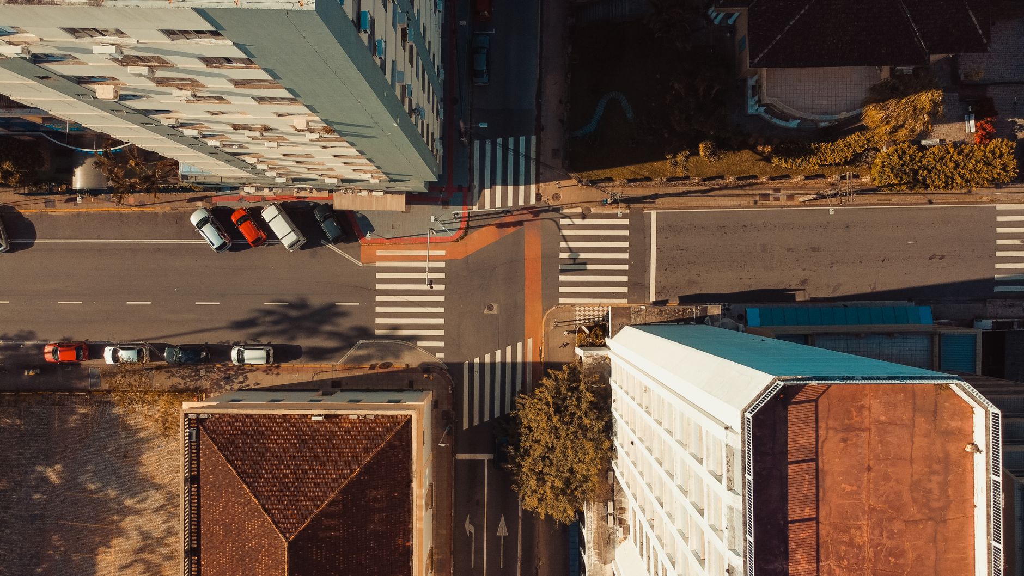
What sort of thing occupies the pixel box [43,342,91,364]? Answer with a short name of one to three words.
car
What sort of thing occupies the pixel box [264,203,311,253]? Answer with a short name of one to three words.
vehicle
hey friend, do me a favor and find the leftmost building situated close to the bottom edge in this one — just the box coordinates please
[180,392,435,576]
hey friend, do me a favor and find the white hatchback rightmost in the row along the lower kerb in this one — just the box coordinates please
[231,345,275,367]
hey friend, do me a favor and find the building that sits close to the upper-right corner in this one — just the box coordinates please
[704,0,993,133]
